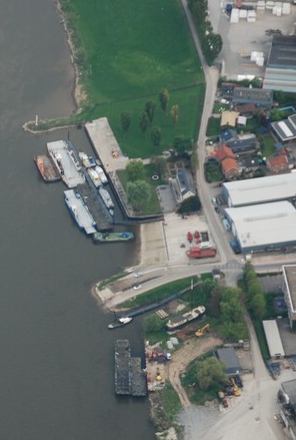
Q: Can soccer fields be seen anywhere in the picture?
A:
No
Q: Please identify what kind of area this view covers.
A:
port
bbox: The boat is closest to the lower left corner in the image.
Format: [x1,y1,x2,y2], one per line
[107,310,134,327]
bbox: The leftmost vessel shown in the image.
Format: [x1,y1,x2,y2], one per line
[35,154,58,181]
